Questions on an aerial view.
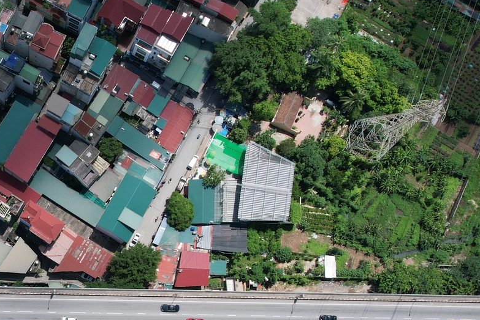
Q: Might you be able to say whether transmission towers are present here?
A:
Yes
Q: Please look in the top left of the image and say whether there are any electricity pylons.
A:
No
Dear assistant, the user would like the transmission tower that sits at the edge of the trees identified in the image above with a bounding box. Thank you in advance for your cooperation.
[341,103,438,170]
